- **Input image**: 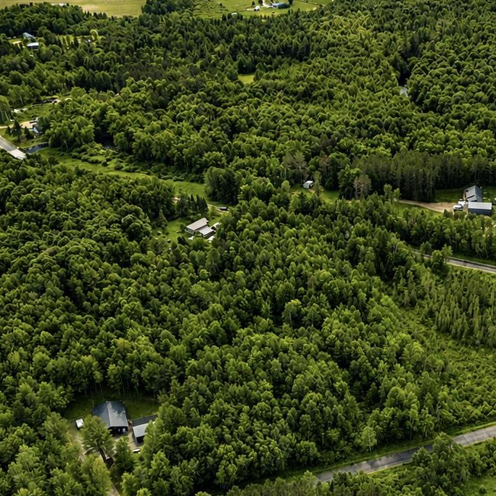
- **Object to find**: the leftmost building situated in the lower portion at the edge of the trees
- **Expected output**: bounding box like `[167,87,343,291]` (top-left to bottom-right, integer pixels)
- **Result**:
[90,400,132,447]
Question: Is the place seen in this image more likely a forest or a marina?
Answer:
forest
